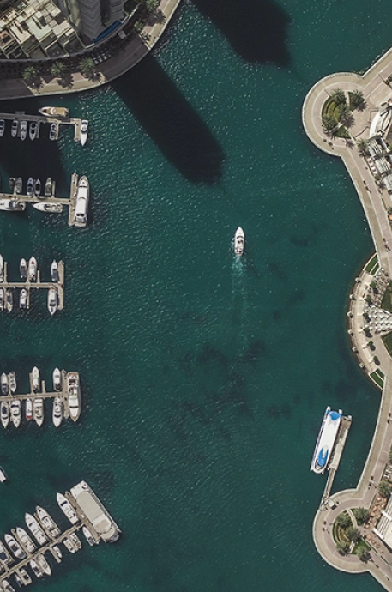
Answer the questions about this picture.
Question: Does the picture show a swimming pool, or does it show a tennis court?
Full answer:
This aerial view contains a swimming pool.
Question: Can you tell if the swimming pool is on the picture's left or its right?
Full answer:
The swimming pool is on the left side of the image.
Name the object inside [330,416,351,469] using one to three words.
pier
